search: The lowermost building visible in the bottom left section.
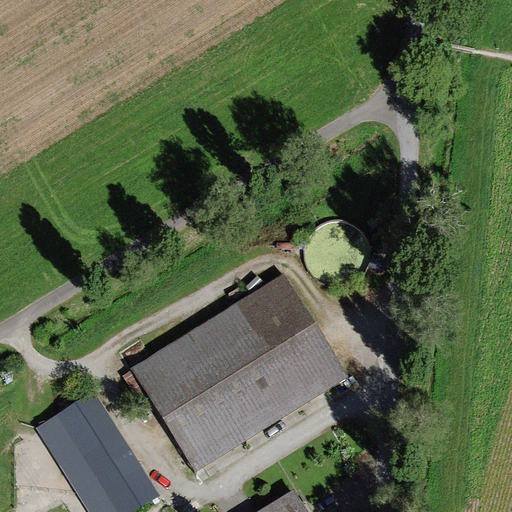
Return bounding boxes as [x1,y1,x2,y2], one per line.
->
[34,392,159,512]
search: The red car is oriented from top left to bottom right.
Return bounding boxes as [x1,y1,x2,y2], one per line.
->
[150,470,172,488]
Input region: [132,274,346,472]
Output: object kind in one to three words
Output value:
barn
